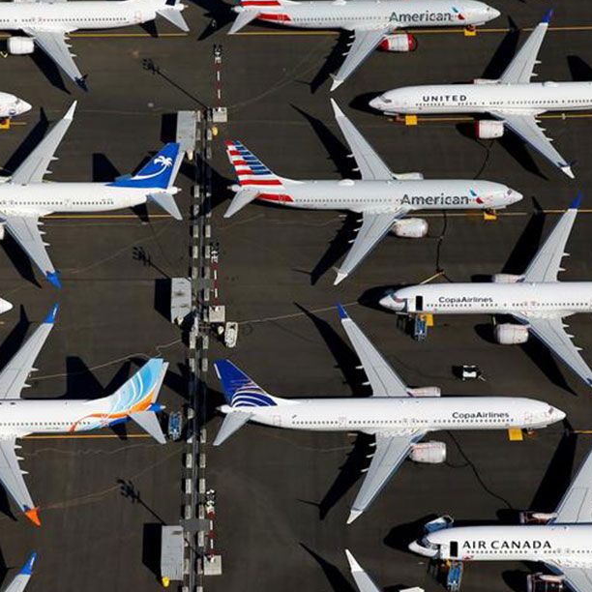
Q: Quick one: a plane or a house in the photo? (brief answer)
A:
plane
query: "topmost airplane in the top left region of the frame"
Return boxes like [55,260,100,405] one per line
[0,0,188,90]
